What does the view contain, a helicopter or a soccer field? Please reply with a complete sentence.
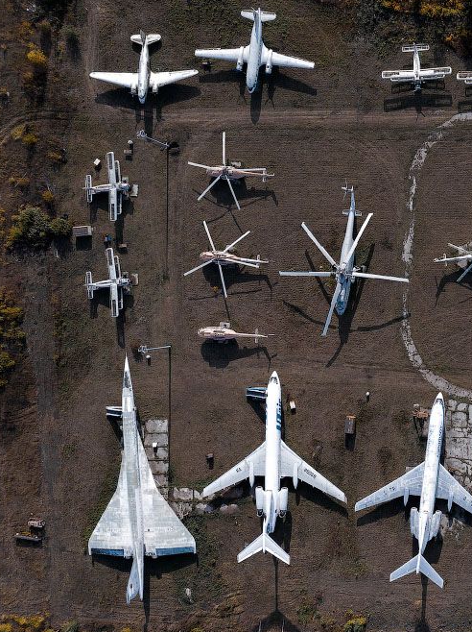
I can see a helicopter in this picture.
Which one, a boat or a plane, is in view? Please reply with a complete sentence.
Looking from above, you can make out a plane.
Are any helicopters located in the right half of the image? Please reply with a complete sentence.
Yes, a helicopter appears in the right half of the image.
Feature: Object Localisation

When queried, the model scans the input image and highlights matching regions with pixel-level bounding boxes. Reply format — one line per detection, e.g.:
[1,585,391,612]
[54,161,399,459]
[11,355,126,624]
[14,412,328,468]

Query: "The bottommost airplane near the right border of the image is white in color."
[357,393,472,587]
